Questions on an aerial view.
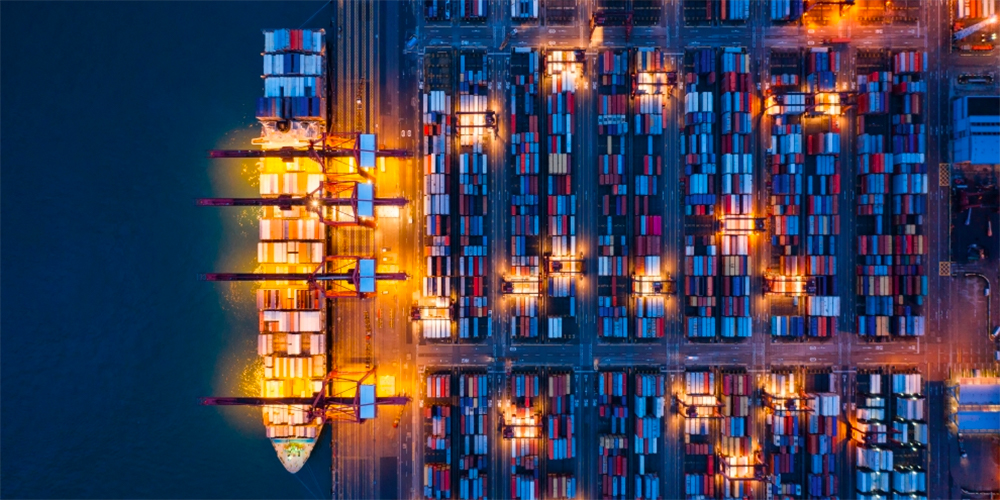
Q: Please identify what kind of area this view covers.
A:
port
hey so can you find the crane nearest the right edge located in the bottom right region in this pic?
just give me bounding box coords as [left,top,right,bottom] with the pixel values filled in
[846,419,910,447]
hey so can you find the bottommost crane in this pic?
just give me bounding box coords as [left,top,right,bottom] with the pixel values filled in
[716,452,770,481]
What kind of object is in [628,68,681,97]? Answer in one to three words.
container crane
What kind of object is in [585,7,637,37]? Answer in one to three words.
container crane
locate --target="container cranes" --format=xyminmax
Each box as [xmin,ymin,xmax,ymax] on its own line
[672,393,728,420]
[759,387,819,414]
[628,68,681,97]
[407,300,457,322]
[541,47,590,76]
[801,89,862,115]
[846,419,910,447]
[713,215,770,235]
[628,275,681,297]
[802,0,862,24]
[541,255,590,276]
[204,130,413,183]
[498,413,546,441]
[452,110,499,136]
[202,251,413,300]
[585,7,637,37]
[189,179,413,230]
[202,362,413,425]
[759,274,821,297]
[716,452,770,481]
[498,274,546,297]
